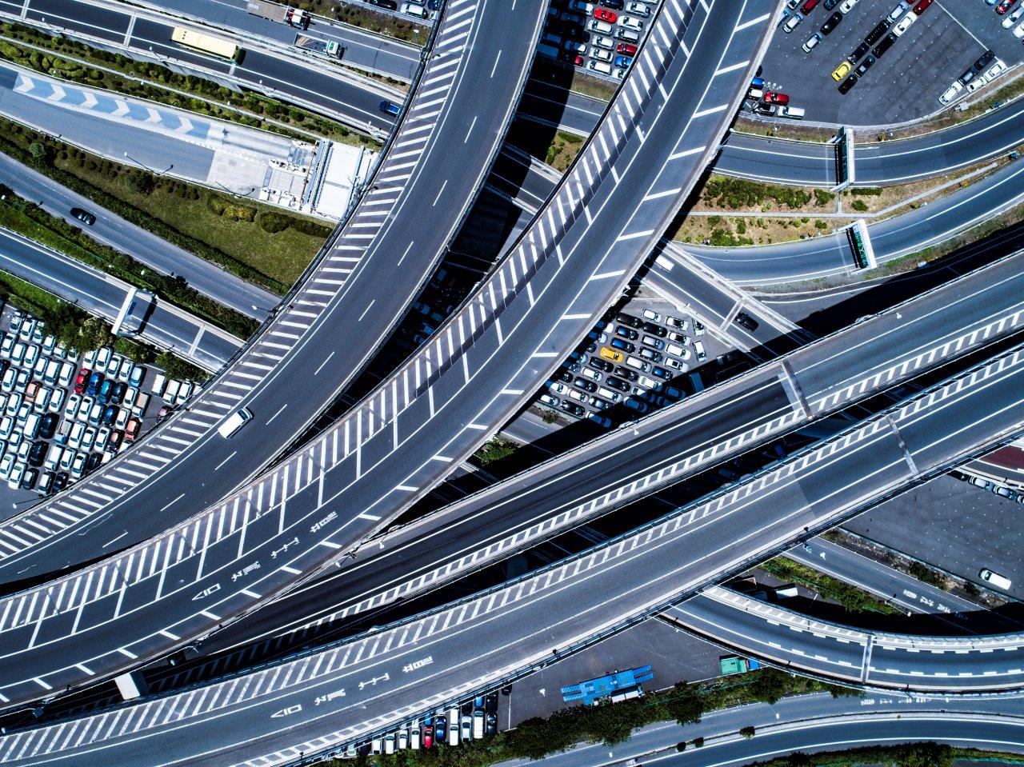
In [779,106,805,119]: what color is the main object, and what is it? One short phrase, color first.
white vehicle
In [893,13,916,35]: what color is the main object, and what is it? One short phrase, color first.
white car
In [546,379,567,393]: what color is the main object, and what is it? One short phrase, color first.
white car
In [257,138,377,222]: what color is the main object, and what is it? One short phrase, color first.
white toll station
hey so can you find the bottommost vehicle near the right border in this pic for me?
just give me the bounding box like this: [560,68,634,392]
[978,567,1013,589]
